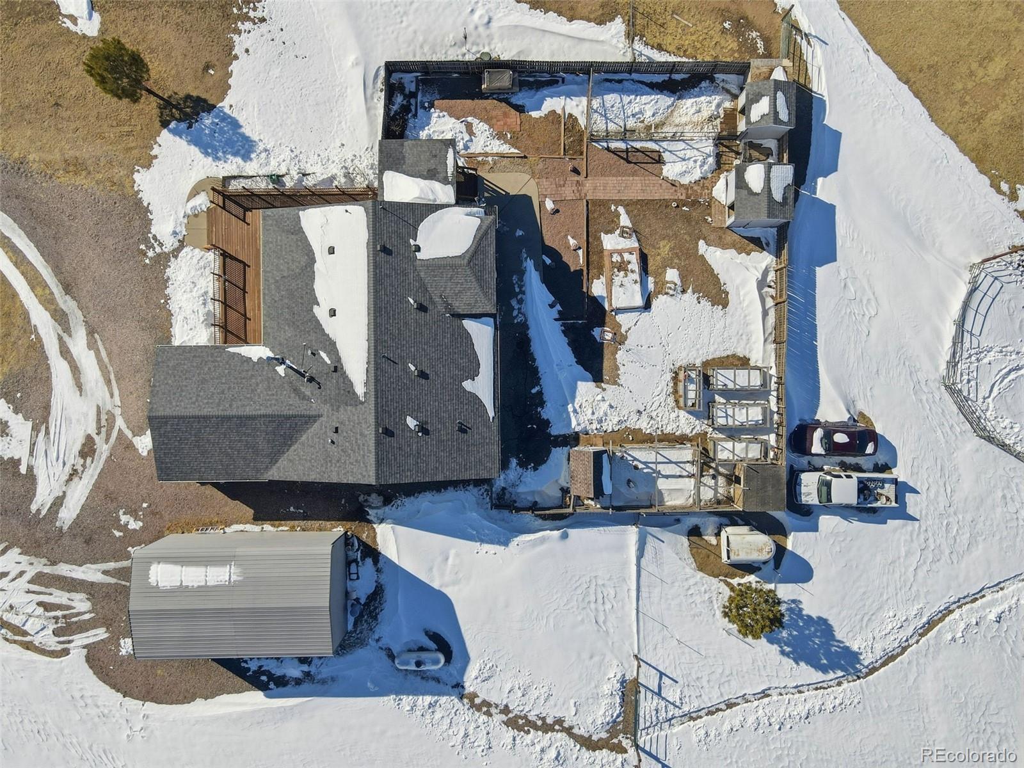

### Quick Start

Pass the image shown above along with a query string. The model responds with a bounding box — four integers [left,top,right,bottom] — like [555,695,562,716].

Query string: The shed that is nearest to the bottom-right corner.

[734,464,786,512]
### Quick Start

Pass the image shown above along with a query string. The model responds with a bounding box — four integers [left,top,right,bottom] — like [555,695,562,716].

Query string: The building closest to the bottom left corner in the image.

[128,531,349,659]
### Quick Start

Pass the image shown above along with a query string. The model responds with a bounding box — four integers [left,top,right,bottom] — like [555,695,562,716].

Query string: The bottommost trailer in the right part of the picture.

[716,520,781,565]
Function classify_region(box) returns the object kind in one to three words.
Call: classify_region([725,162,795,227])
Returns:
shed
